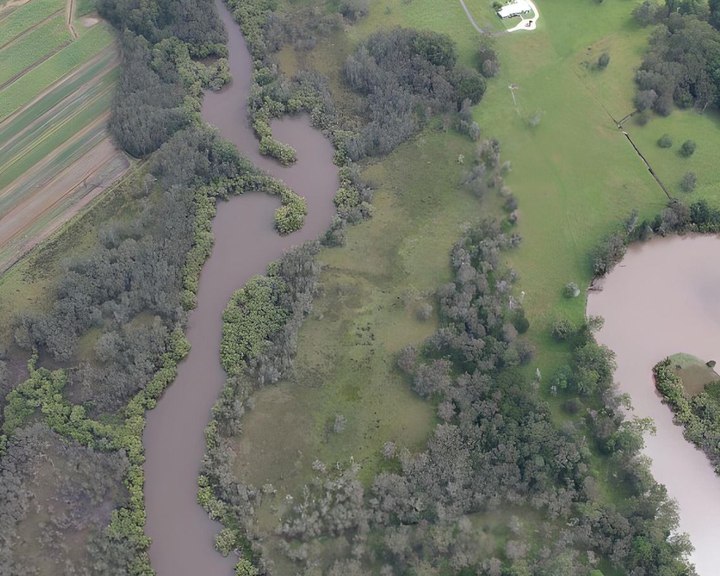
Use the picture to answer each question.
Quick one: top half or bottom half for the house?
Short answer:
top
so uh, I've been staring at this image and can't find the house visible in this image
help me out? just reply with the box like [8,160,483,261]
[497,0,532,23]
